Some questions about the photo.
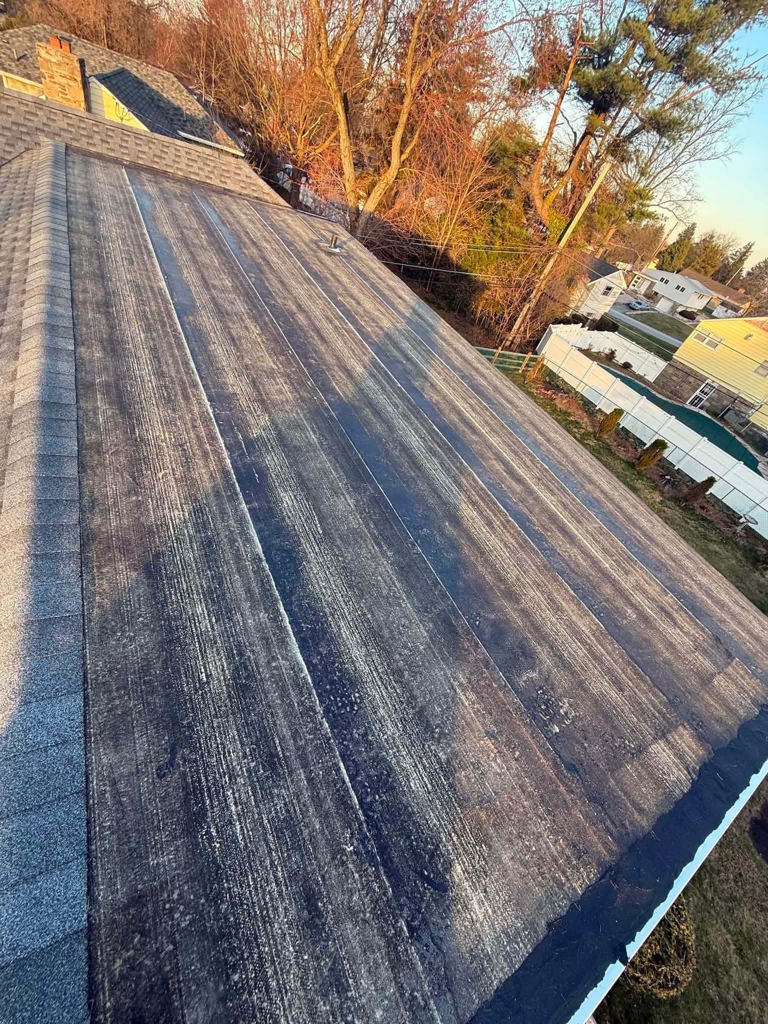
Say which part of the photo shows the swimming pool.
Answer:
right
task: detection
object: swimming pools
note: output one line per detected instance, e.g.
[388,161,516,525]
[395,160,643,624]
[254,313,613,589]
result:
[601,362,768,496]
